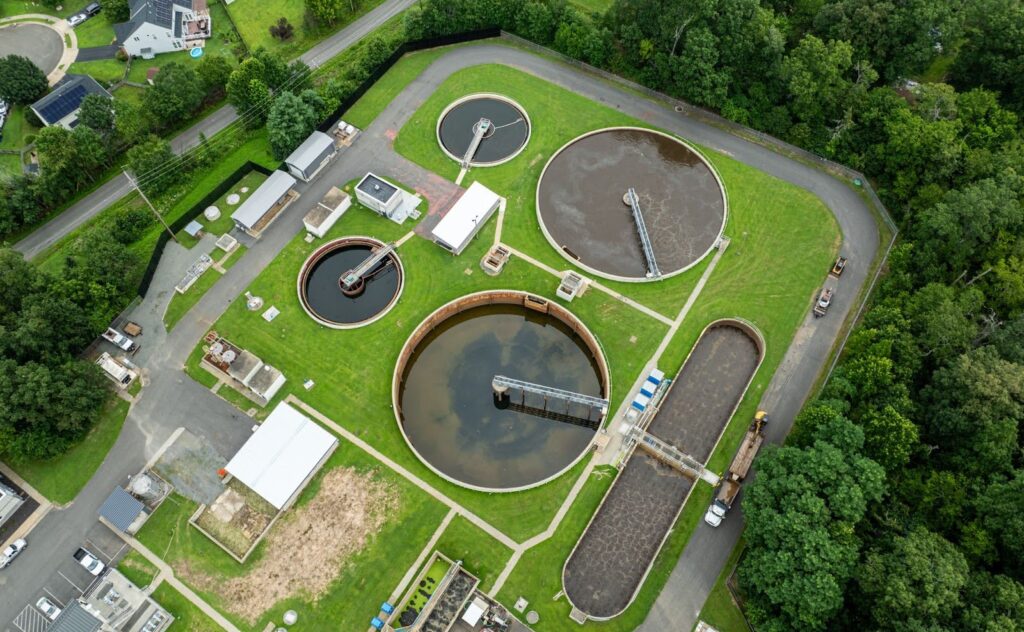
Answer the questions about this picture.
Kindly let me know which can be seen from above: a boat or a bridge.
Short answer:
bridge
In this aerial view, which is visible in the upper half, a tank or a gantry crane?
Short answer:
tank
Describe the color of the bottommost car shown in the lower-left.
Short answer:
white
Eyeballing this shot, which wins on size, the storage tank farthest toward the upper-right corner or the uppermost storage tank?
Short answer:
the storage tank farthest toward the upper-right corner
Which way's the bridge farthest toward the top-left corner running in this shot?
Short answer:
at an angle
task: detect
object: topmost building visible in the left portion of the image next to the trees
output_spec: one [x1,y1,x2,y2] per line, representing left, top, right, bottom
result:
[107,0,214,58]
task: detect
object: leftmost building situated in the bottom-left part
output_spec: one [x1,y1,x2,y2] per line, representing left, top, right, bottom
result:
[0,478,35,527]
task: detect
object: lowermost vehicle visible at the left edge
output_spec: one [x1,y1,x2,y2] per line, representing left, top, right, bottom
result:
[34,595,63,620]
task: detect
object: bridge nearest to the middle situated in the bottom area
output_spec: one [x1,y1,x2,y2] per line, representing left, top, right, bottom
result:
[492,376,610,415]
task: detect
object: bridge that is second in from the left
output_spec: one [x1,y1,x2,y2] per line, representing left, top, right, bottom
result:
[463,116,494,167]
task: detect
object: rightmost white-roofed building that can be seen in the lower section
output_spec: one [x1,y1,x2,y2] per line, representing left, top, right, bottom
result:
[463,597,487,627]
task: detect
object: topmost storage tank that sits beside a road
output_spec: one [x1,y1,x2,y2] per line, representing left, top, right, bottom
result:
[436,94,531,168]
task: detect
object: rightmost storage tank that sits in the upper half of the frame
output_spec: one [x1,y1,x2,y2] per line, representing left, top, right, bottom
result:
[538,127,730,283]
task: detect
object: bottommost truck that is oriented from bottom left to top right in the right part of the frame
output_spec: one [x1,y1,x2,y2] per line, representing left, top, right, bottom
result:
[702,474,743,527]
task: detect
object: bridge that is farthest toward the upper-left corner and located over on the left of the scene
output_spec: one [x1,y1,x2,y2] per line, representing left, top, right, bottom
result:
[340,242,398,288]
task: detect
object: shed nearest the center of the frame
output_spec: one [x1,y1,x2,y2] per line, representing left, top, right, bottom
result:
[430,183,503,255]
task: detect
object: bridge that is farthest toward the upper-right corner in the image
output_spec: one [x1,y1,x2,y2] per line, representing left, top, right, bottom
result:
[626,186,659,276]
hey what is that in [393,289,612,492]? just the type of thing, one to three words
storage tank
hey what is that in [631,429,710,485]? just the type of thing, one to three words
bridge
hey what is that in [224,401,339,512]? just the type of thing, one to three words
building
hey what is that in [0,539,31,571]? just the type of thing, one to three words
truck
